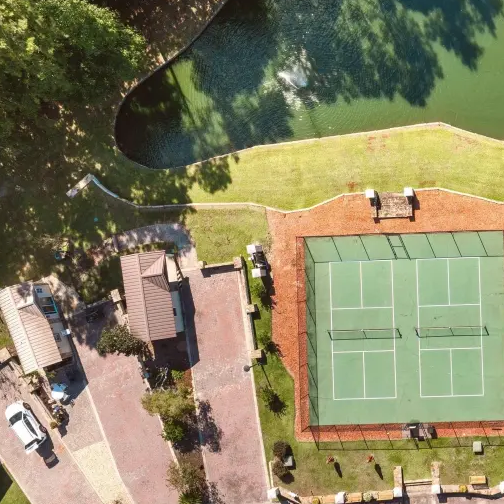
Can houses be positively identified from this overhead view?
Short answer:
Yes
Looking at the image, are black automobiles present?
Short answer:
No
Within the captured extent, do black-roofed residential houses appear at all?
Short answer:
No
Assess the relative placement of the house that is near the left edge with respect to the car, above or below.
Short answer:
above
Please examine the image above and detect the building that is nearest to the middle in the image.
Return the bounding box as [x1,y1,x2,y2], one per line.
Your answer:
[119,249,185,347]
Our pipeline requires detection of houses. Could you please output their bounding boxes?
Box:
[119,249,185,347]
[0,279,77,377]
